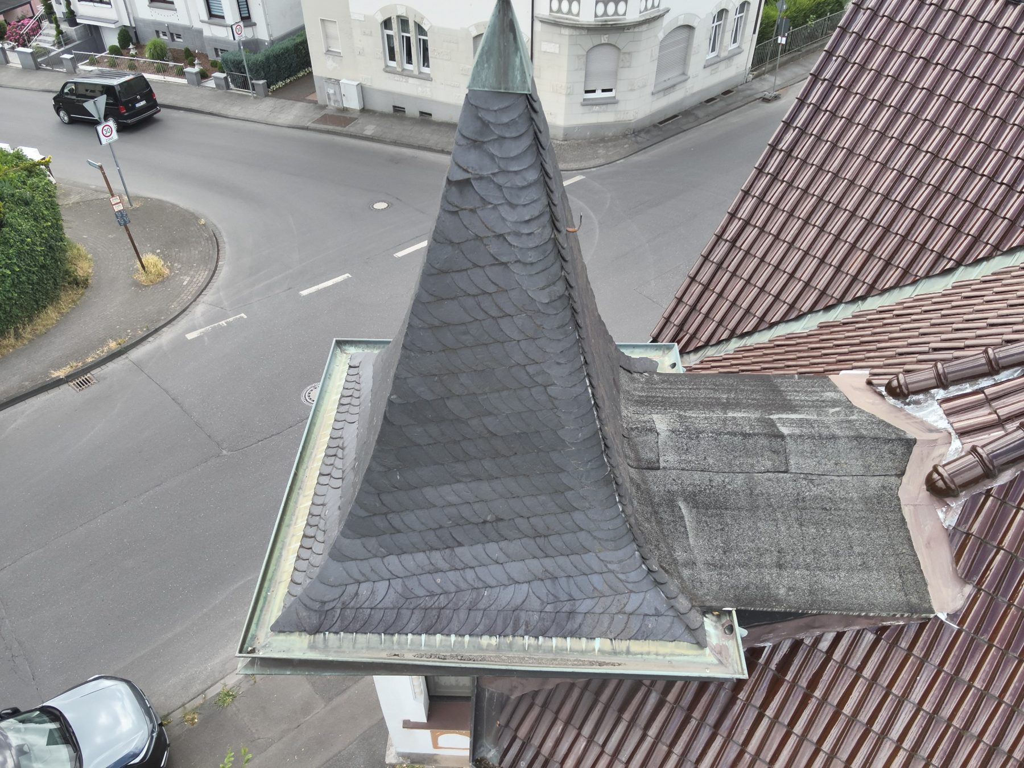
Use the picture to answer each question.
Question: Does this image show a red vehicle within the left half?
No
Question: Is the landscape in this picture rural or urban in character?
urban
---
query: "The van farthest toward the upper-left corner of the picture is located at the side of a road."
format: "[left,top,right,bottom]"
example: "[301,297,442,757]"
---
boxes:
[56,66,160,132]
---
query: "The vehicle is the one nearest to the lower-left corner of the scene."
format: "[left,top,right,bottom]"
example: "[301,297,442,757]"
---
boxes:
[0,664,171,768]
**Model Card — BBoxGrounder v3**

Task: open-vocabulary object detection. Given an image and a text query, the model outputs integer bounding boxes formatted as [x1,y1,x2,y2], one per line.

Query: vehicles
[56,66,160,132]
[0,664,171,768]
